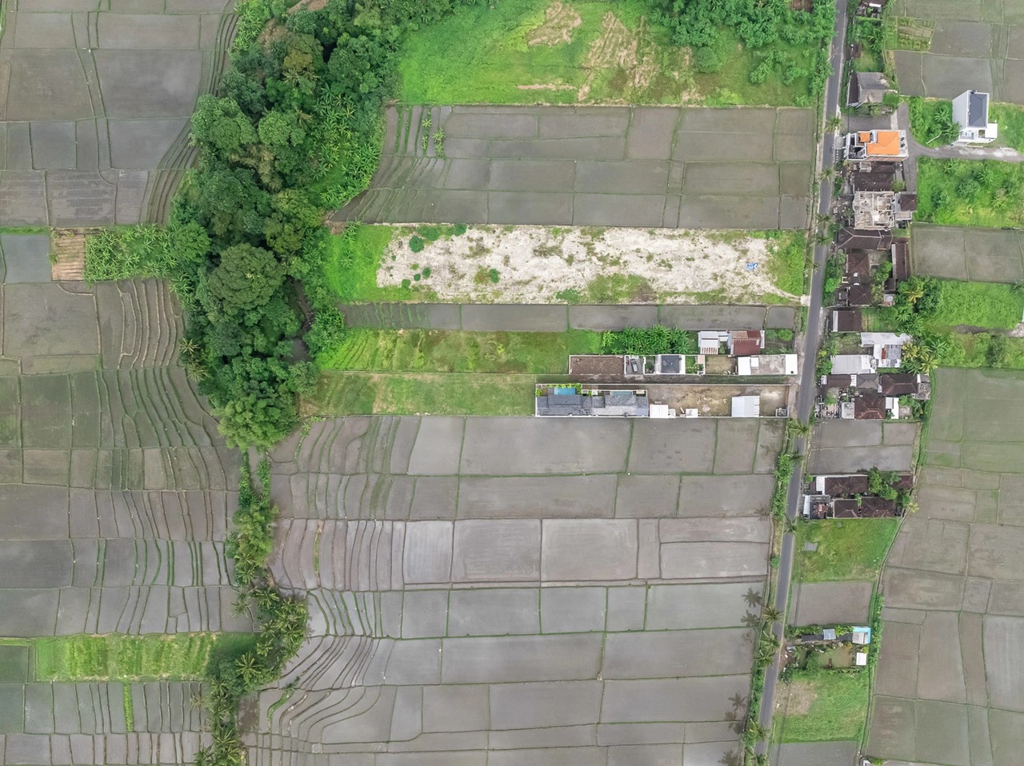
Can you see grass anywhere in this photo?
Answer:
Yes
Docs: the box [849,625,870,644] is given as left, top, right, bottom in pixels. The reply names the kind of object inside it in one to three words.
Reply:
shed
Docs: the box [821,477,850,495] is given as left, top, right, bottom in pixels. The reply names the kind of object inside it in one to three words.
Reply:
house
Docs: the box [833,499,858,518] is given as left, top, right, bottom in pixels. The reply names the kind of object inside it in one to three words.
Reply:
house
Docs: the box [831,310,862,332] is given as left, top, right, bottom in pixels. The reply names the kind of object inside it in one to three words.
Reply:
building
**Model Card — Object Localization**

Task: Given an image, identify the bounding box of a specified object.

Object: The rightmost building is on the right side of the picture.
[951,90,998,145]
